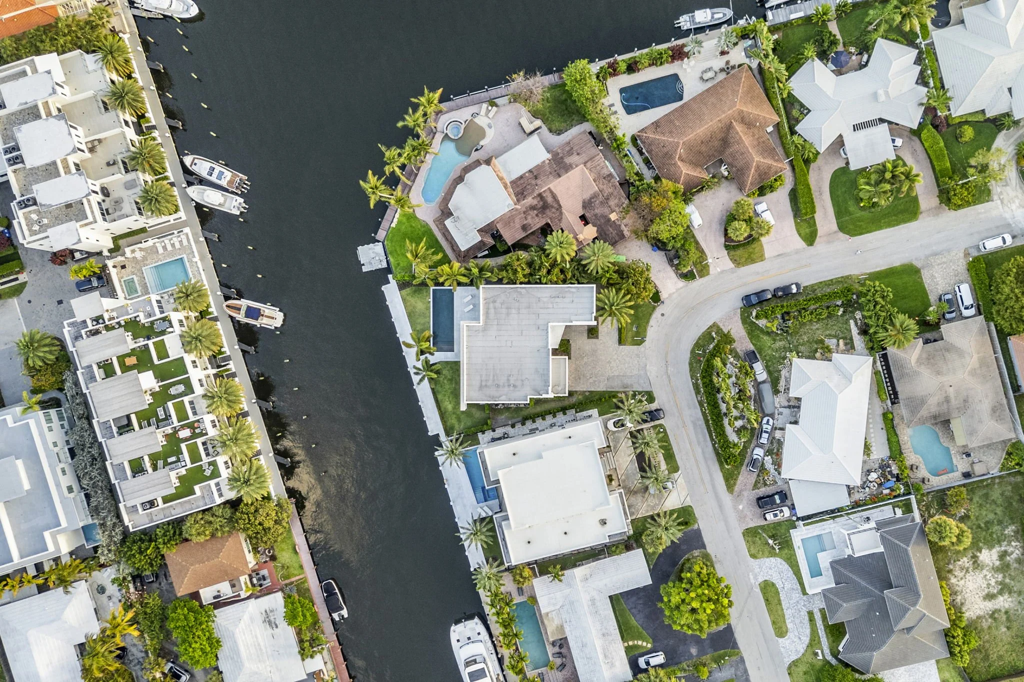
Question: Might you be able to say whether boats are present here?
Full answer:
Yes, I can see a boat in this picture.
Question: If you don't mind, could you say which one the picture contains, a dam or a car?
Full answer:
I can see a car in this picture.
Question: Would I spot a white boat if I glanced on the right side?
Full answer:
Yes, there is a white boat on the right side.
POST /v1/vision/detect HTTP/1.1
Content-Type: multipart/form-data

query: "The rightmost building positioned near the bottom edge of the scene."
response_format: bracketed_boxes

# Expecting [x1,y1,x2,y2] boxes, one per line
[817,513,950,675]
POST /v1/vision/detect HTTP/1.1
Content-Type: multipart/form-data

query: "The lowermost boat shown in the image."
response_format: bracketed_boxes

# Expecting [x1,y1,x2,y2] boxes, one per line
[453,620,507,682]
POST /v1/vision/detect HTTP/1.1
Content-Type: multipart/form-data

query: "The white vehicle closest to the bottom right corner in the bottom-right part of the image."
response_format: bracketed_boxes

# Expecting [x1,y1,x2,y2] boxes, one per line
[763,507,794,523]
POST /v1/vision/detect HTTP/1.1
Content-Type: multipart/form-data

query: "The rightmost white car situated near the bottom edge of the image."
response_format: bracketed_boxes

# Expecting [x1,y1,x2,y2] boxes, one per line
[638,653,667,670]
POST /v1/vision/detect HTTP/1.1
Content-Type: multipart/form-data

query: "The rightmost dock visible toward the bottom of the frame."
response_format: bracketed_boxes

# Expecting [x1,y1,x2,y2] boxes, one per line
[382,274,501,571]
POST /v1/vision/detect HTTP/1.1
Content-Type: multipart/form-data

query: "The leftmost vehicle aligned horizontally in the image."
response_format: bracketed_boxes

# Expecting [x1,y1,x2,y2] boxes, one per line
[71,276,105,292]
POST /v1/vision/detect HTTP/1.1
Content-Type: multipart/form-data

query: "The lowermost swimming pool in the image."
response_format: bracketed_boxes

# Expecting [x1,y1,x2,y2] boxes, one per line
[512,600,552,673]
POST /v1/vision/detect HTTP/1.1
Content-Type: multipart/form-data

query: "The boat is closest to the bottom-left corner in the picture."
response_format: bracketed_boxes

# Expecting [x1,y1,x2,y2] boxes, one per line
[320,582,349,625]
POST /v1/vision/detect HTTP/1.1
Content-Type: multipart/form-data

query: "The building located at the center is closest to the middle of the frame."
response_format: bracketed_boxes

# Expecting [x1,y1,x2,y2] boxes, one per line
[460,284,596,411]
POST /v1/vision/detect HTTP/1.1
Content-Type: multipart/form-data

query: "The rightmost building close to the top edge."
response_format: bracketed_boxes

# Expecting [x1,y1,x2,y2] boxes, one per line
[929,0,1024,121]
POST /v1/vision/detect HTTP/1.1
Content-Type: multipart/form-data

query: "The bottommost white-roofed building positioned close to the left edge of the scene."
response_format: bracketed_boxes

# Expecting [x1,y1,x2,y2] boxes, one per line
[0,578,107,682]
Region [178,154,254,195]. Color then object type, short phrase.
white boat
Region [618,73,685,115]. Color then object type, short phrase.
blue swimming pool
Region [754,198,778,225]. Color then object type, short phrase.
white vehicle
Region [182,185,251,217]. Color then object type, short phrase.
white boat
